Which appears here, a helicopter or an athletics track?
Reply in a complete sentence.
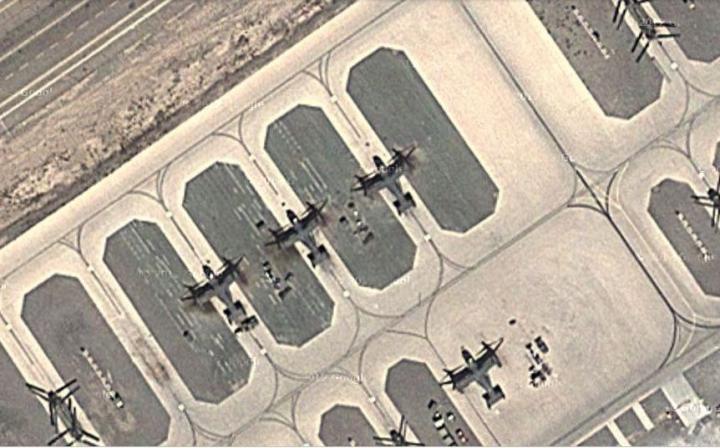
The image shows a helicopter.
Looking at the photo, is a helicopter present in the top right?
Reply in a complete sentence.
Yes, you'll find a helicopter in the top right.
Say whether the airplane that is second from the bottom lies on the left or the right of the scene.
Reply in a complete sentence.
You can find the airplane that is second from the bottom on the left side of the picture.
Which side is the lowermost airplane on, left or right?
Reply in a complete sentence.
You can find the lowermost airplane on the right side of the picture.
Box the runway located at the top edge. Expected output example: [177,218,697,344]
[0,0,174,122]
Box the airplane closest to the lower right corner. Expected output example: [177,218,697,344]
[438,340,506,408]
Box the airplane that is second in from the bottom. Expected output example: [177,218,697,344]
[178,257,246,324]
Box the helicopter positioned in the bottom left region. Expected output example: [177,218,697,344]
[28,387,101,448]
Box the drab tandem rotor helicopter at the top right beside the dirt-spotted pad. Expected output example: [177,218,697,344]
[618,0,681,61]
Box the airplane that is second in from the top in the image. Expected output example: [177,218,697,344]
[262,202,331,268]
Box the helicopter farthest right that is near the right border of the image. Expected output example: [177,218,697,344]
[693,191,720,233]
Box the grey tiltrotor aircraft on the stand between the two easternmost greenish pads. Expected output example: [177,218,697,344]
[348,149,417,215]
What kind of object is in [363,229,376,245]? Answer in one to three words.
vehicle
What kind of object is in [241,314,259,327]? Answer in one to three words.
vehicle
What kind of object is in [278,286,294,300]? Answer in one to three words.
work vehicle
